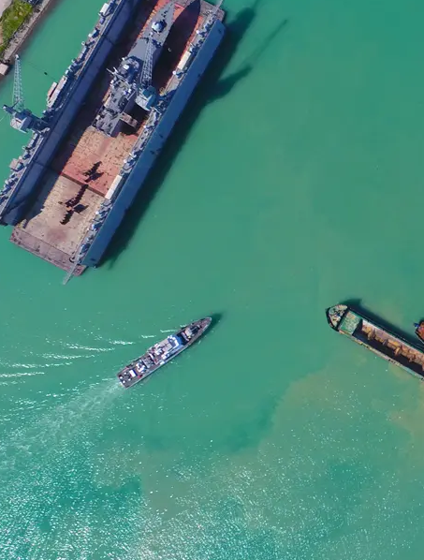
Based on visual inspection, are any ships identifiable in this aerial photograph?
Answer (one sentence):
Yes, there's a ship here.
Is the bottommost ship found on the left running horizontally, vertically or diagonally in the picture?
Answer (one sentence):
In this picture, the bottommost ship found on the left is oriented diagonally.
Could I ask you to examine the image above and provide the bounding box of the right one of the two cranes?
[135,32,166,117]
